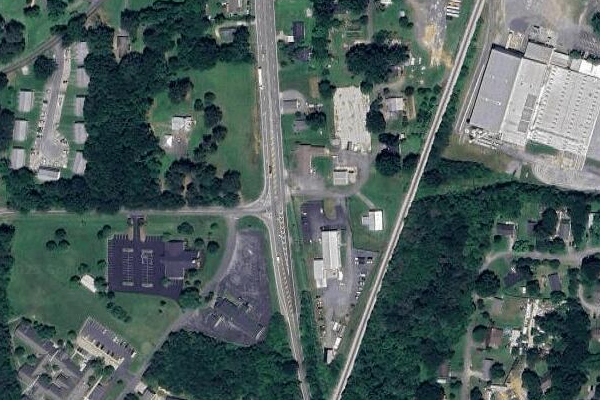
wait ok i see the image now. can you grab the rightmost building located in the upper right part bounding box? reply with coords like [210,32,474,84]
[470,38,600,168]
